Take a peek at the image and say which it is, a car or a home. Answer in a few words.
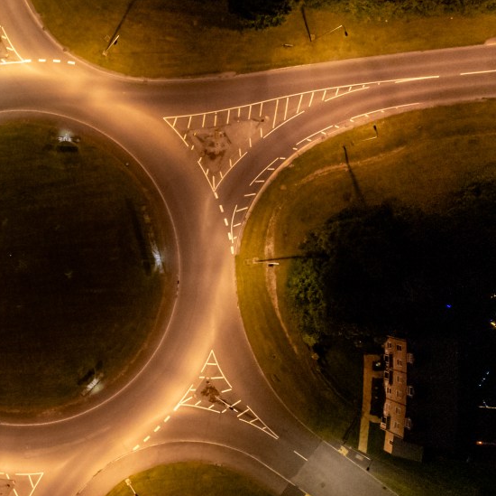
home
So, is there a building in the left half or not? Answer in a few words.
No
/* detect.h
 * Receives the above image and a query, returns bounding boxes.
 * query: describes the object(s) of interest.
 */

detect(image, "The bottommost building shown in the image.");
[381,434,424,463]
